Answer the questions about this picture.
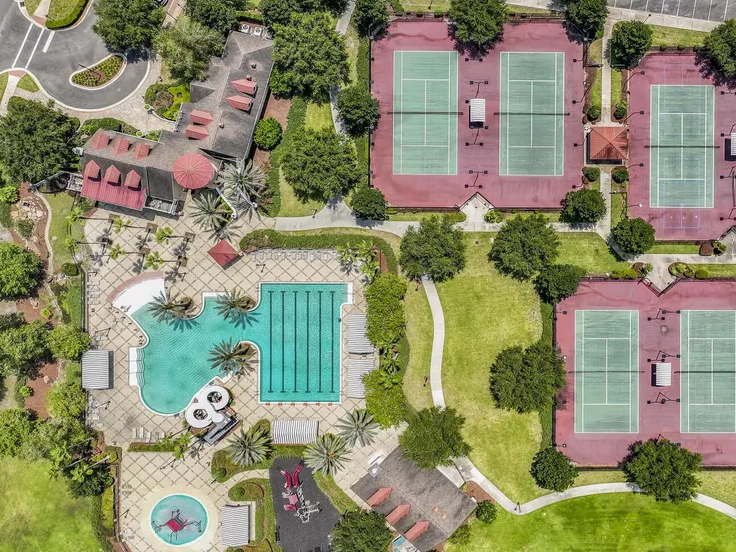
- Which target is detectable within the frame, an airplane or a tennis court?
tennis court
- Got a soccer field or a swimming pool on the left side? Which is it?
swimming pool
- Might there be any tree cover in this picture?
Yes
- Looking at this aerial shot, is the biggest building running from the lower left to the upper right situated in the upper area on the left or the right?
left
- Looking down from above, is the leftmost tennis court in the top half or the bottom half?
top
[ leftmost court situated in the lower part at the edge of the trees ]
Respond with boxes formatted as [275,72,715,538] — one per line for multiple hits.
[555,279,660,467]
